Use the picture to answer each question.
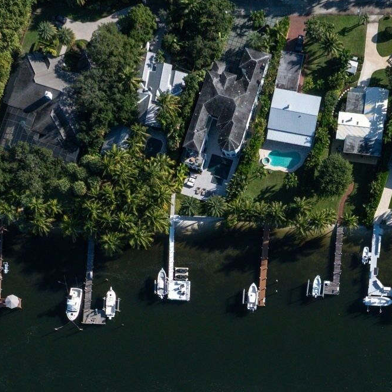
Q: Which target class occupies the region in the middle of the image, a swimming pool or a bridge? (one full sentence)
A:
The feature located in the middle of the image is a swimming pool.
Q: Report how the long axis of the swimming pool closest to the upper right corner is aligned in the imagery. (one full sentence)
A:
The swimming pool closest to the upper right corner is oriented from left to right.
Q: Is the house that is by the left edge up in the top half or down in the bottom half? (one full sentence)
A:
You can find the house that is by the left edge in the top half.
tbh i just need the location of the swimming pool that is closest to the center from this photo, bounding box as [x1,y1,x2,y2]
[207,153,234,179]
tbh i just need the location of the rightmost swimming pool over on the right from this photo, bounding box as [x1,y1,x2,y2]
[261,149,302,169]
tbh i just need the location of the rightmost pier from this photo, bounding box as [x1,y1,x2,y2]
[367,225,392,296]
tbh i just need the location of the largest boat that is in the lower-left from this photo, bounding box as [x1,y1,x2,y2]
[68,287,85,321]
